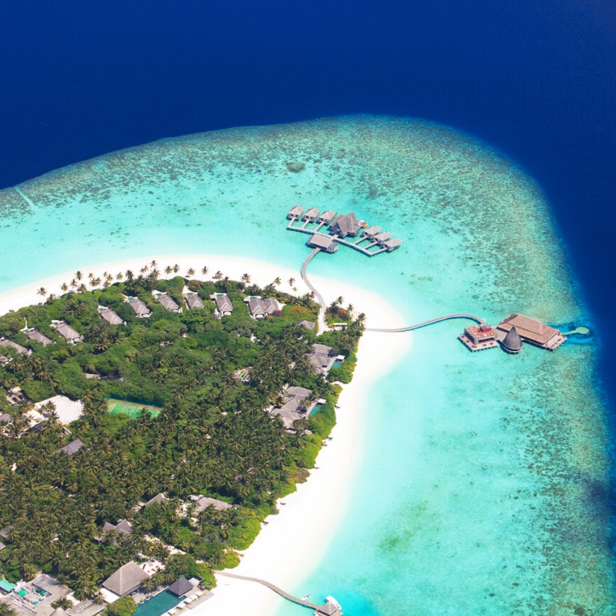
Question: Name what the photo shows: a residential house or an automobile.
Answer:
residential house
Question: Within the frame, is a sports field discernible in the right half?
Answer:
No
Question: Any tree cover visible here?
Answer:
Yes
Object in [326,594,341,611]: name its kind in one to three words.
boat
